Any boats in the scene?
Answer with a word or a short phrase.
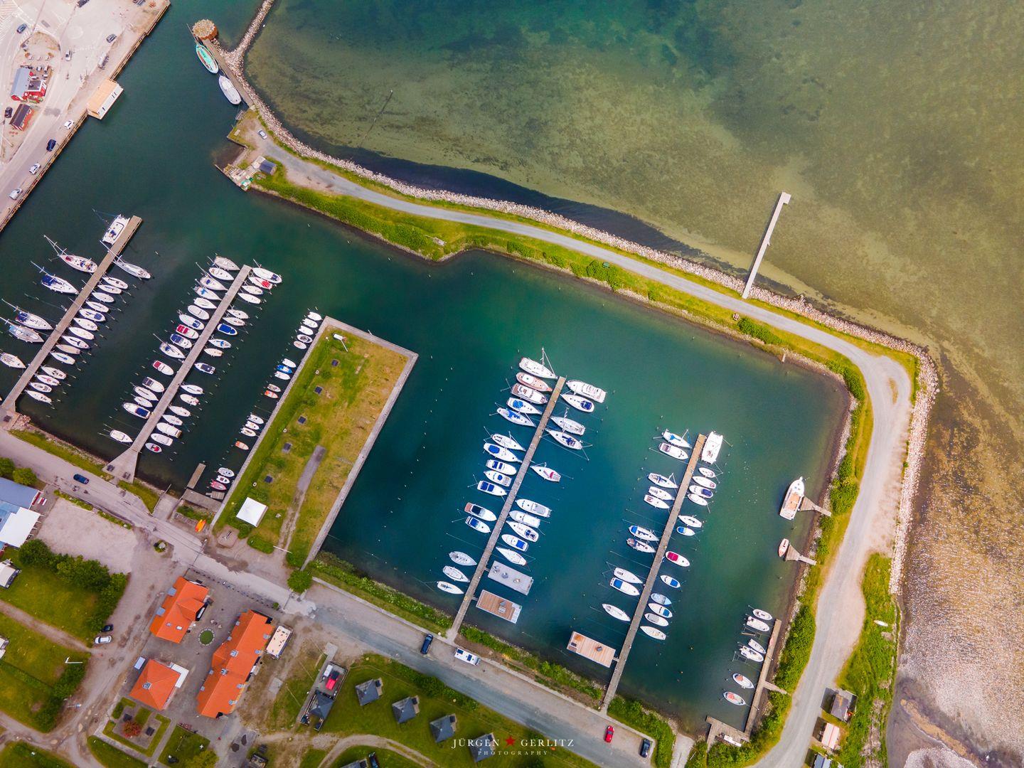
Yes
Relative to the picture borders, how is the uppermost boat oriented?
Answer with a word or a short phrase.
at an angle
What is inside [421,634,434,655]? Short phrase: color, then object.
blue vehicle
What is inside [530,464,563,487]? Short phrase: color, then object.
white boat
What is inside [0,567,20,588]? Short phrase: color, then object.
white camper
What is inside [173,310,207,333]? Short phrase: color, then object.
white boat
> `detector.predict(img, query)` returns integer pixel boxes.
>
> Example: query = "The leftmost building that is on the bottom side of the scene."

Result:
[0,478,46,547]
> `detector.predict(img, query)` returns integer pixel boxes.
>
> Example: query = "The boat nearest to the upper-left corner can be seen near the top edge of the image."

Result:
[190,33,219,76]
